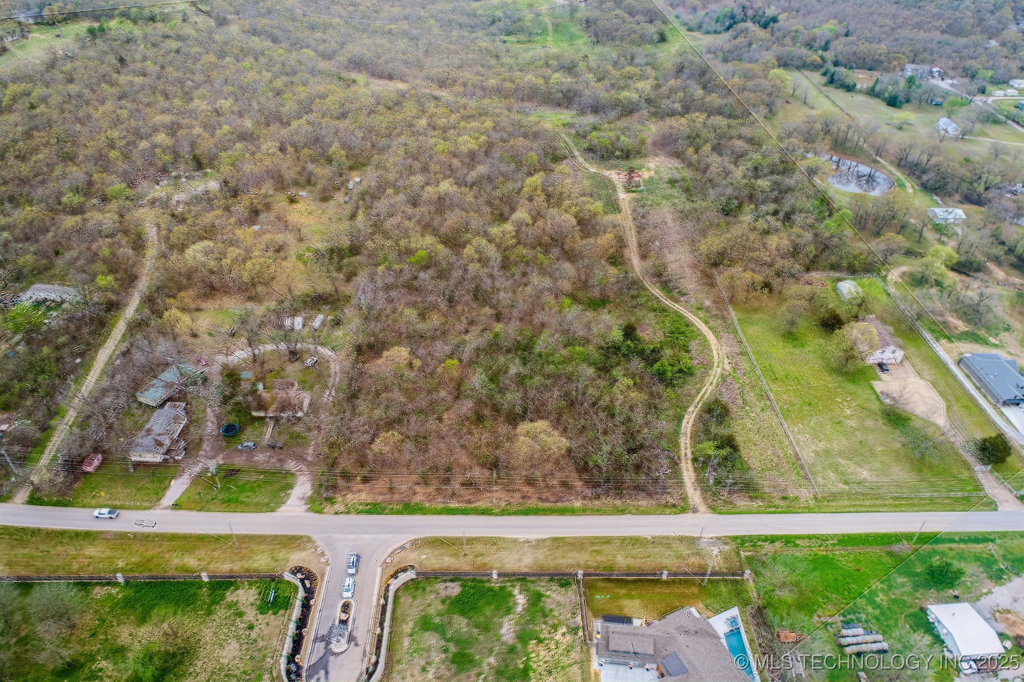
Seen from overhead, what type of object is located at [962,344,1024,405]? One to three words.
house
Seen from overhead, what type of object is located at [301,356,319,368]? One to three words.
vehicle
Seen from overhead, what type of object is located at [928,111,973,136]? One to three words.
barn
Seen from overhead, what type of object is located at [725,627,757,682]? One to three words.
swimming pool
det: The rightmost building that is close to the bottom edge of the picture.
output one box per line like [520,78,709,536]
[924,603,1008,682]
